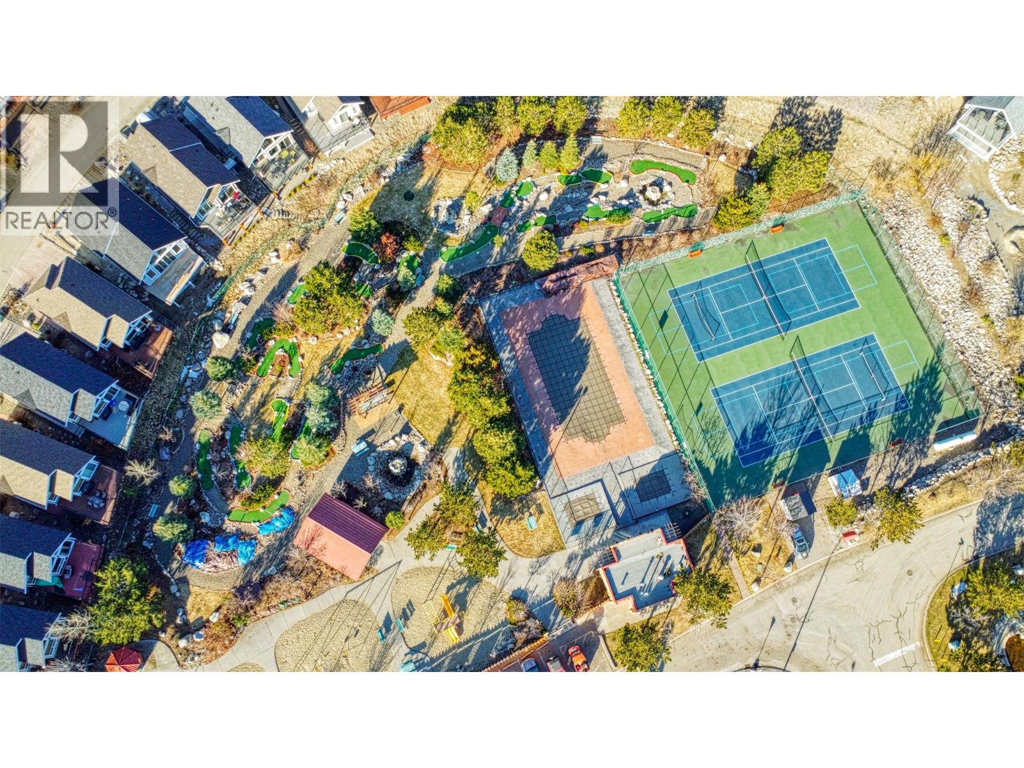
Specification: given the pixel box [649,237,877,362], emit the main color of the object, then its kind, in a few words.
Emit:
blue tennis court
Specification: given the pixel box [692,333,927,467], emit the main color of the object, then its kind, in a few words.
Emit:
blue tennis court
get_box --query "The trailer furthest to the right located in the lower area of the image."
[818,464,868,505]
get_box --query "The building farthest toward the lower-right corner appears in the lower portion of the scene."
[595,522,690,610]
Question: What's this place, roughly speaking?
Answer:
residential area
